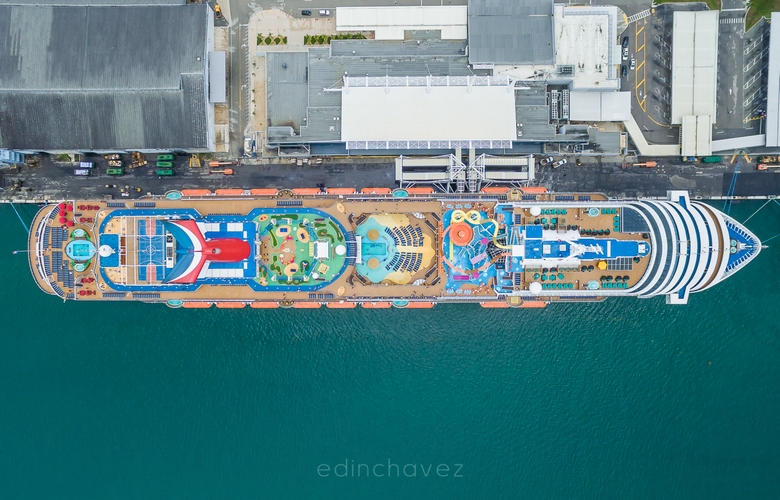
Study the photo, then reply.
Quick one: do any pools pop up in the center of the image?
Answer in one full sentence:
Yes, I can see a pool in the center of the image.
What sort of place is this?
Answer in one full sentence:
The picture captures a port.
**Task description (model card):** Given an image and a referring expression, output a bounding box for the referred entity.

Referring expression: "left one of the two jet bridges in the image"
[395,149,465,194]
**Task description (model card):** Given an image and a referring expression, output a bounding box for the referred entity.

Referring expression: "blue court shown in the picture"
[138,220,166,282]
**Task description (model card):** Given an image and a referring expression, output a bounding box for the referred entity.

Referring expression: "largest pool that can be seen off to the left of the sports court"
[66,238,96,263]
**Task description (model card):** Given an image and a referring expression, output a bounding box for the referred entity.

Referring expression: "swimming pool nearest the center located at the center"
[362,231,395,269]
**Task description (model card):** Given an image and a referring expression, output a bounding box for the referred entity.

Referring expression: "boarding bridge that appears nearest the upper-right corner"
[465,149,535,193]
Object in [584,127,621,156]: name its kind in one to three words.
building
